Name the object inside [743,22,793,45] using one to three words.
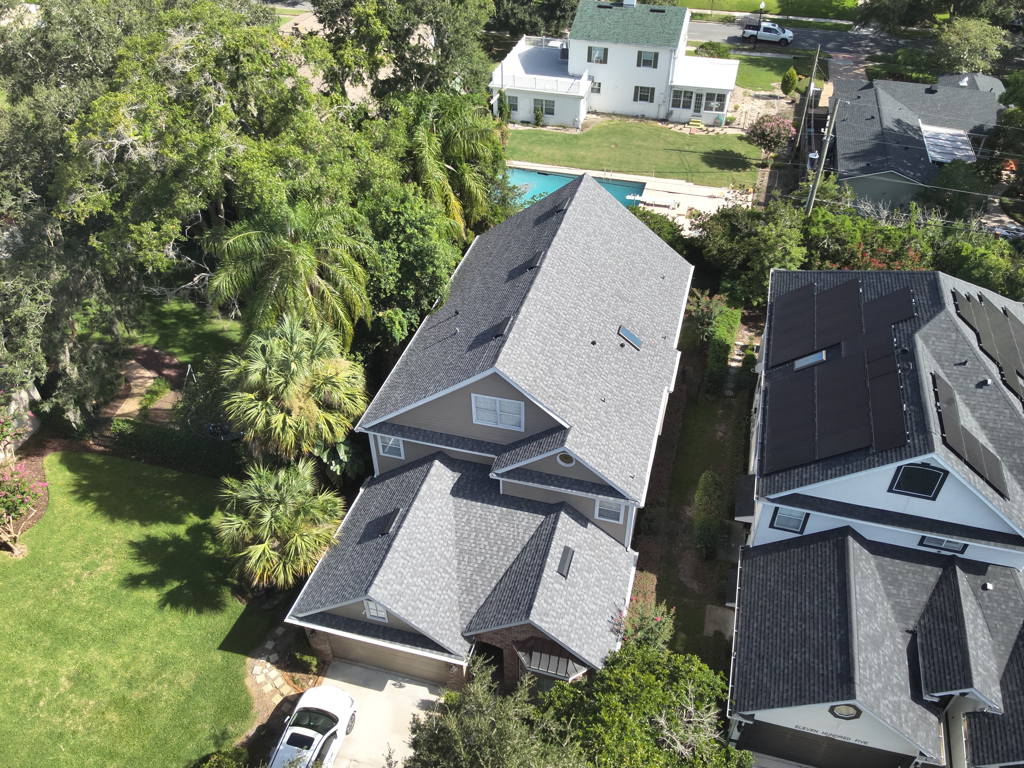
truck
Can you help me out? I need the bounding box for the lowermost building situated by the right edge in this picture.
[723,261,1024,768]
